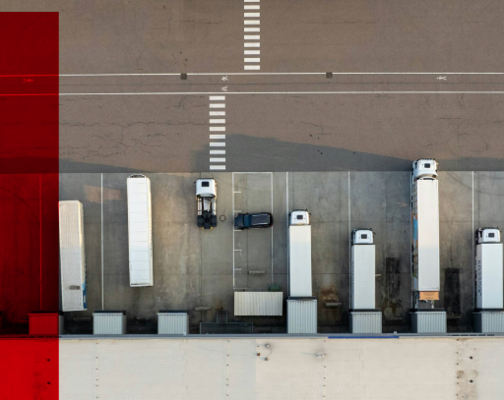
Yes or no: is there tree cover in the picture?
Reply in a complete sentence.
No, the picture contains no tree cover.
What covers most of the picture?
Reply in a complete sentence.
The scene is dominated by paved ground.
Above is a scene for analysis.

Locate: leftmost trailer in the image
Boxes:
[59,201,89,313]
